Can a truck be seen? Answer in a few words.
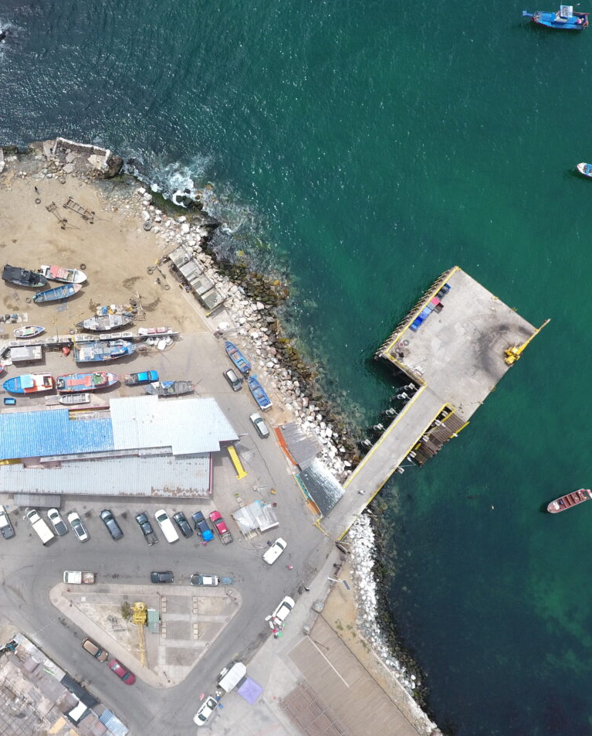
Yes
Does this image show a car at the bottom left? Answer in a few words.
Yes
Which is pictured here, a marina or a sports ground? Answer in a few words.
marina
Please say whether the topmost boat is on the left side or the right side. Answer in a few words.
right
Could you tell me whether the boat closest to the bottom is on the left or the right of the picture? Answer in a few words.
right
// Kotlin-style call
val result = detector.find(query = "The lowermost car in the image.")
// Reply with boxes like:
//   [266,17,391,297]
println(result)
[193,693,219,726]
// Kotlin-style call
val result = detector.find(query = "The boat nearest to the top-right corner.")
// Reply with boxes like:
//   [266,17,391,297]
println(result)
[524,6,590,34]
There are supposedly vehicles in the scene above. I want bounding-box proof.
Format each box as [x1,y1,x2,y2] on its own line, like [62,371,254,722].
[101,508,125,542]
[222,367,243,393]
[136,511,160,547]
[0,504,15,540]
[193,693,219,726]
[124,370,159,386]
[268,595,297,631]
[262,534,287,566]
[80,635,110,663]
[217,658,251,698]
[151,570,174,583]
[250,411,271,439]
[173,509,195,539]
[154,508,181,544]
[47,507,70,538]
[209,509,235,546]
[191,509,215,544]
[108,657,137,685]
[67,511,89,542]
[24,508,54,547]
